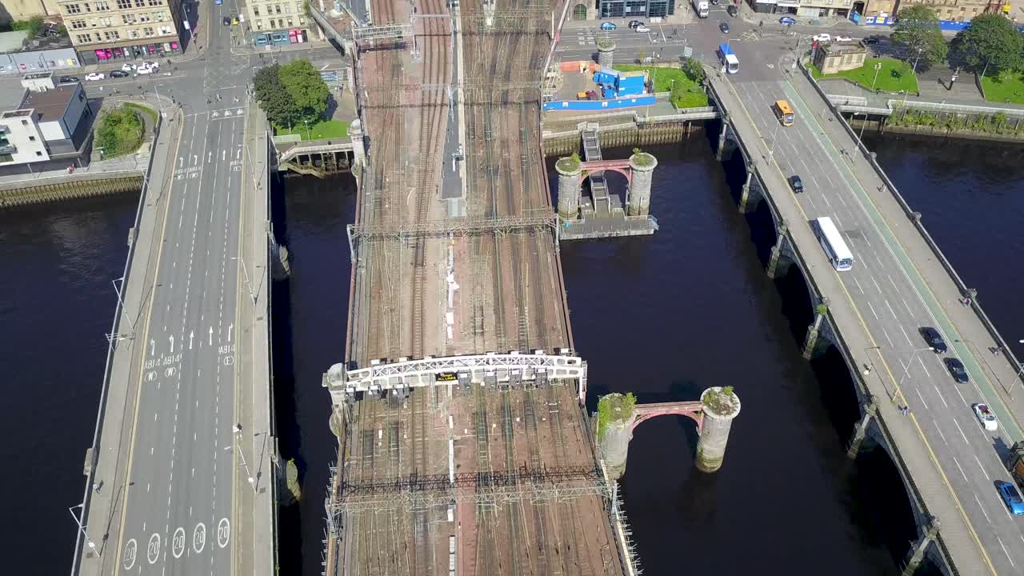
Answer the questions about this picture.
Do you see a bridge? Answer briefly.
Yes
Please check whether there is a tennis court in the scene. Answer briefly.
No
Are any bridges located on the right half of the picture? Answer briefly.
Yes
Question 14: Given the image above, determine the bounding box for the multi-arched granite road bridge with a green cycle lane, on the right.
[702,72,1024,576]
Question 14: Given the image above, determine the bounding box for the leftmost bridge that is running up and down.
[70,96,300,576]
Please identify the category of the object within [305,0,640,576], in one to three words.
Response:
bridge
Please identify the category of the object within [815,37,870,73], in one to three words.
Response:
building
